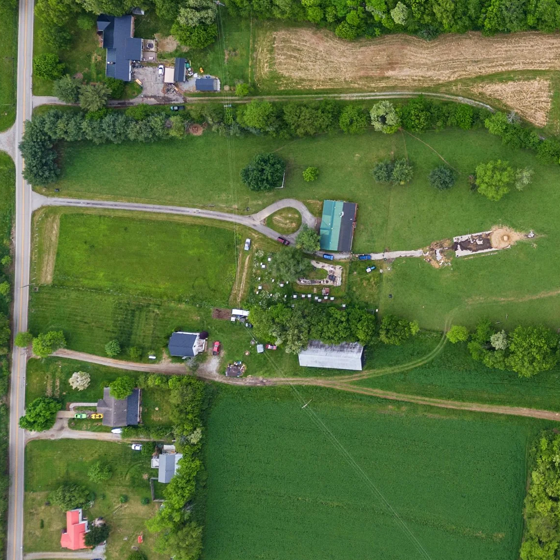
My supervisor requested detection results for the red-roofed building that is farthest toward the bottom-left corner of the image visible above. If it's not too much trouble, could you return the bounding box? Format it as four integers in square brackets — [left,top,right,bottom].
[57,509,95,553]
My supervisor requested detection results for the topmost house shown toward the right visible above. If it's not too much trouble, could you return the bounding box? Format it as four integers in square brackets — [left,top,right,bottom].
[319,200,359,251]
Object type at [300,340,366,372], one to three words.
barn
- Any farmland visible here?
Yes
